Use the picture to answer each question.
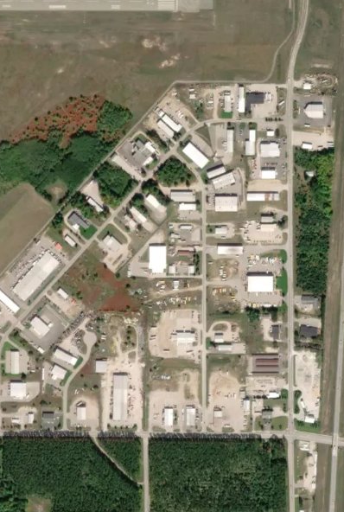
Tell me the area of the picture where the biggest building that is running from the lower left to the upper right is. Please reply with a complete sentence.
The biggest building that is running from the lower left to the upper right appears toward the left of the photo.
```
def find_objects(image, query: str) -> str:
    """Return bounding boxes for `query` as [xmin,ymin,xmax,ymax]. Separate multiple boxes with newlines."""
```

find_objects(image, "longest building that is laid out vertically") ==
[114,376,128,421]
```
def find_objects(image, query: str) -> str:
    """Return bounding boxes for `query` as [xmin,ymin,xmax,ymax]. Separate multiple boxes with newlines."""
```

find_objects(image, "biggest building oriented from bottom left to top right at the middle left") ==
[12,252,59,301]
